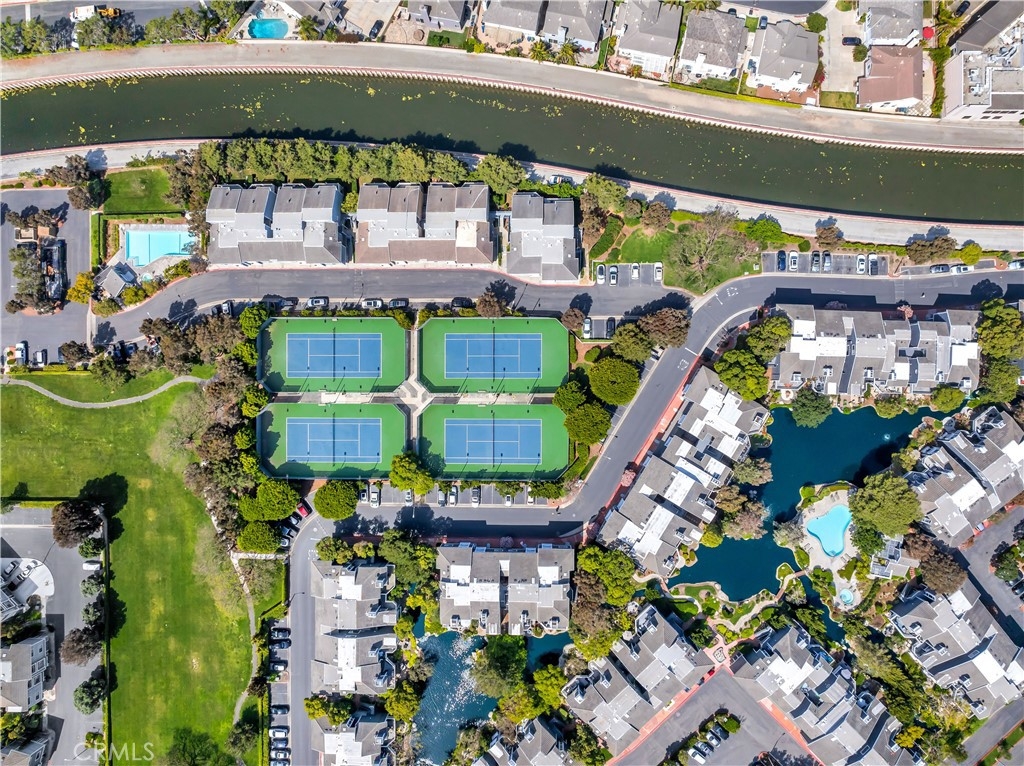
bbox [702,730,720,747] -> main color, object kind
white car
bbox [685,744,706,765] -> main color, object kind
white vehicle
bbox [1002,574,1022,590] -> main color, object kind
gray car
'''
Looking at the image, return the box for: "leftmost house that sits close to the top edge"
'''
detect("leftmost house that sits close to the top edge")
[277,0,349,36]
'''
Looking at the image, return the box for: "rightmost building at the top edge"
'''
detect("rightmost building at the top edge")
[938,0,1024,121]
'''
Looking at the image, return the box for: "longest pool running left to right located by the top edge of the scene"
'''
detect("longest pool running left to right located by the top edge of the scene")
[248,18,288,37]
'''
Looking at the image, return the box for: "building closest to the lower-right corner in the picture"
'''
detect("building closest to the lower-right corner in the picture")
[883,576,1024,720]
